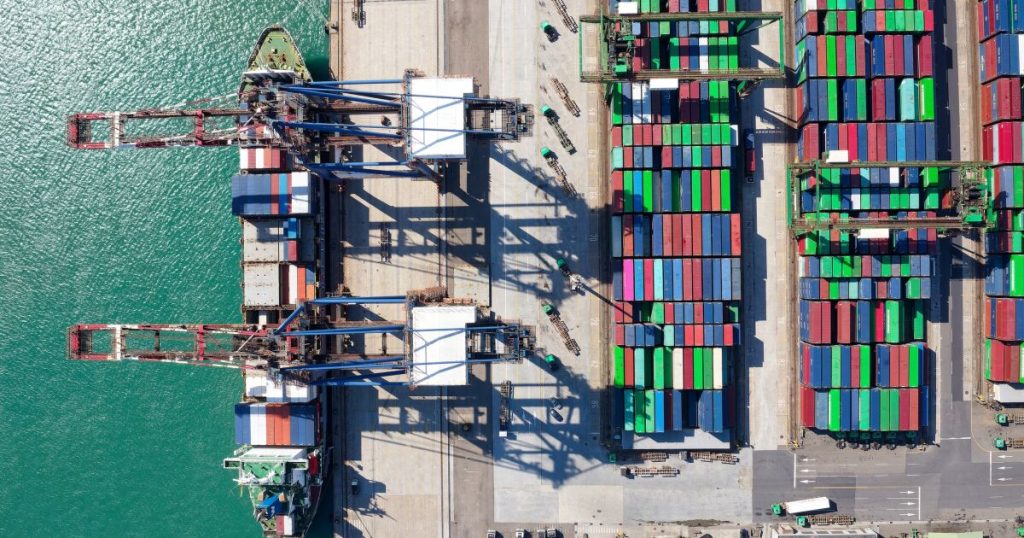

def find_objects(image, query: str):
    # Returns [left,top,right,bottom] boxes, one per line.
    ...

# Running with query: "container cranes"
[785,150,993,256]
[579,2,784,102]
[66,75,536,197]
[65,286,538,386]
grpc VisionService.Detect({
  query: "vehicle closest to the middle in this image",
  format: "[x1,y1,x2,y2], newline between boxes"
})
[555,257,573,279]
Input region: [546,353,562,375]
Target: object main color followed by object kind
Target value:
green vehicle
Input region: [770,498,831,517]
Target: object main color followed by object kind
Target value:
white vehicle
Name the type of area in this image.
port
